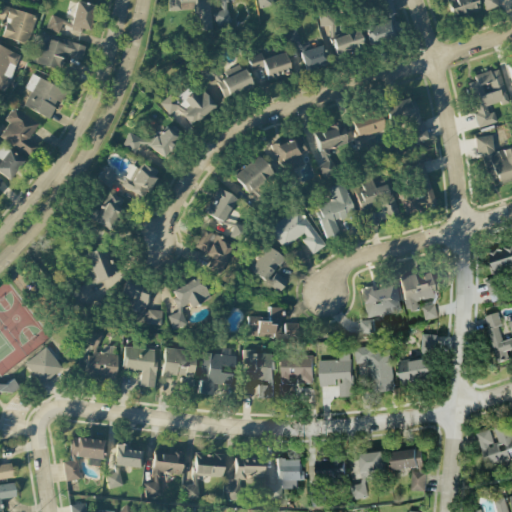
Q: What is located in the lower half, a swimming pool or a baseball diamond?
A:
swimming pool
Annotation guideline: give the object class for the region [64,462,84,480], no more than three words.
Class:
building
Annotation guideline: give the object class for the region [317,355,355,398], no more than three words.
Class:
house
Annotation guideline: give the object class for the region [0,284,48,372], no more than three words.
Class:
basketball court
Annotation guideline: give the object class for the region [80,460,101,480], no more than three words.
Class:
swimming pool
